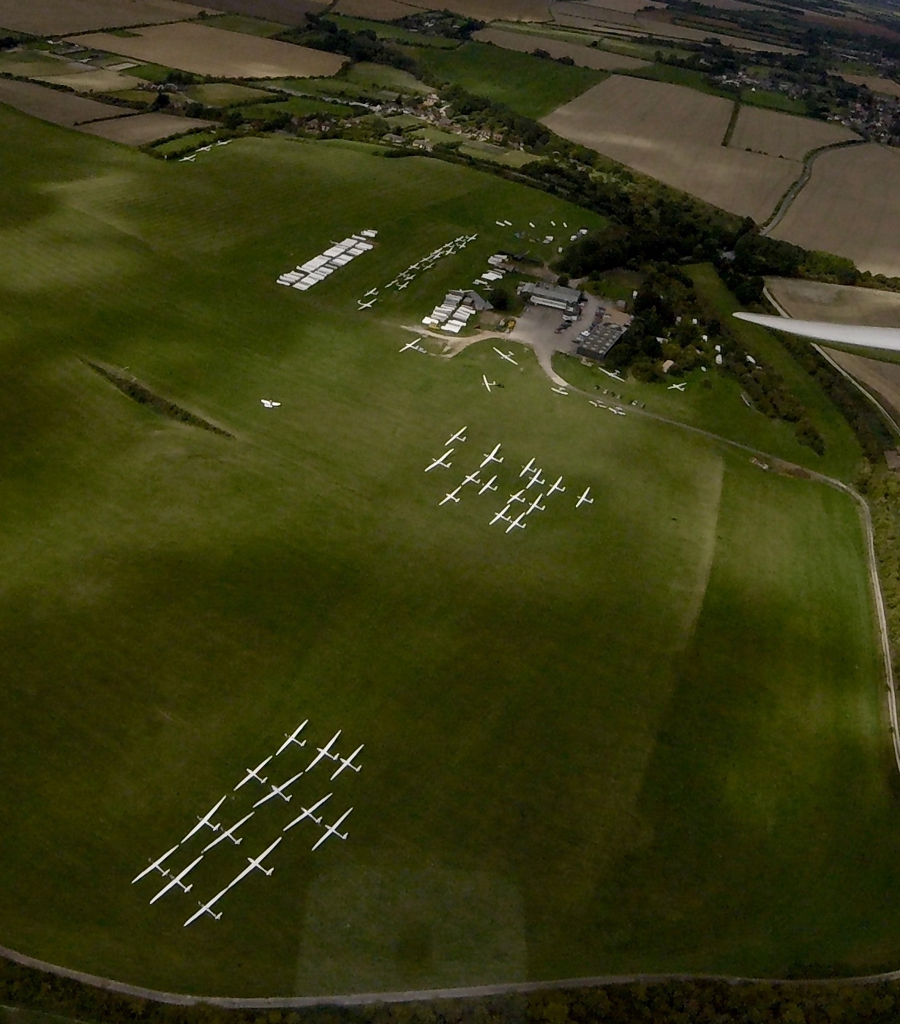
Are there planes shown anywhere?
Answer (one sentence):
Yes, there's a plane down there.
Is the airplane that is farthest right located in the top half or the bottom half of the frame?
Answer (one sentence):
The top half of the photo is where the airplane that is farthest right is.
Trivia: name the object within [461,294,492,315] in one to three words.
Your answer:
barn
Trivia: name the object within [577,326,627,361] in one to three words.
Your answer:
hangar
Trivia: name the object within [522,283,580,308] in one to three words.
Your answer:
building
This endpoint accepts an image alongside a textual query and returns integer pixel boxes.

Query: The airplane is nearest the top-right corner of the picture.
[733,312,900,351]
